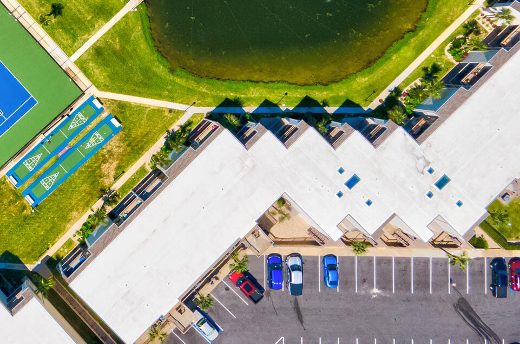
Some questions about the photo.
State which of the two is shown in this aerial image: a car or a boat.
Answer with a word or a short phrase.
car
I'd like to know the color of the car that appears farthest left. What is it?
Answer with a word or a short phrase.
white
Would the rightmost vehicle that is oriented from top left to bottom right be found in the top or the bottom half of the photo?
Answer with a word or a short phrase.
bottom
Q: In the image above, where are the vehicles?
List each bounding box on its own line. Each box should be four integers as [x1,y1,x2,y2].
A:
[268,254,285,287]
[508,256,520,286]
[194,311,219,340]
[286,252,304,293]
[233,271,266,304]
[324,253,340,284]
[490,255,509,294]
